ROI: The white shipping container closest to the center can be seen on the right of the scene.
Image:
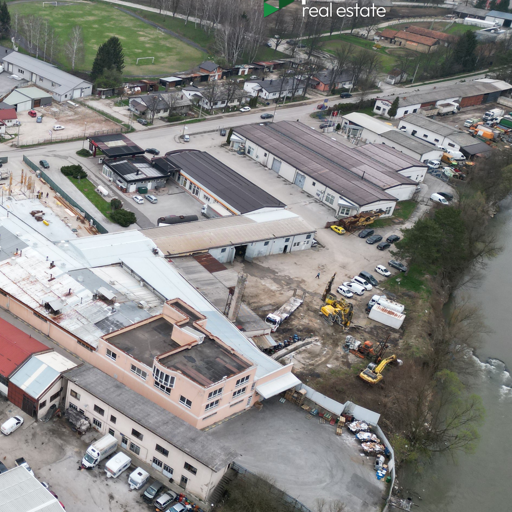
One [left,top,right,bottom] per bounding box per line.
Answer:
[368,305,404,330]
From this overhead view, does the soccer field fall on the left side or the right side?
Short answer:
left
